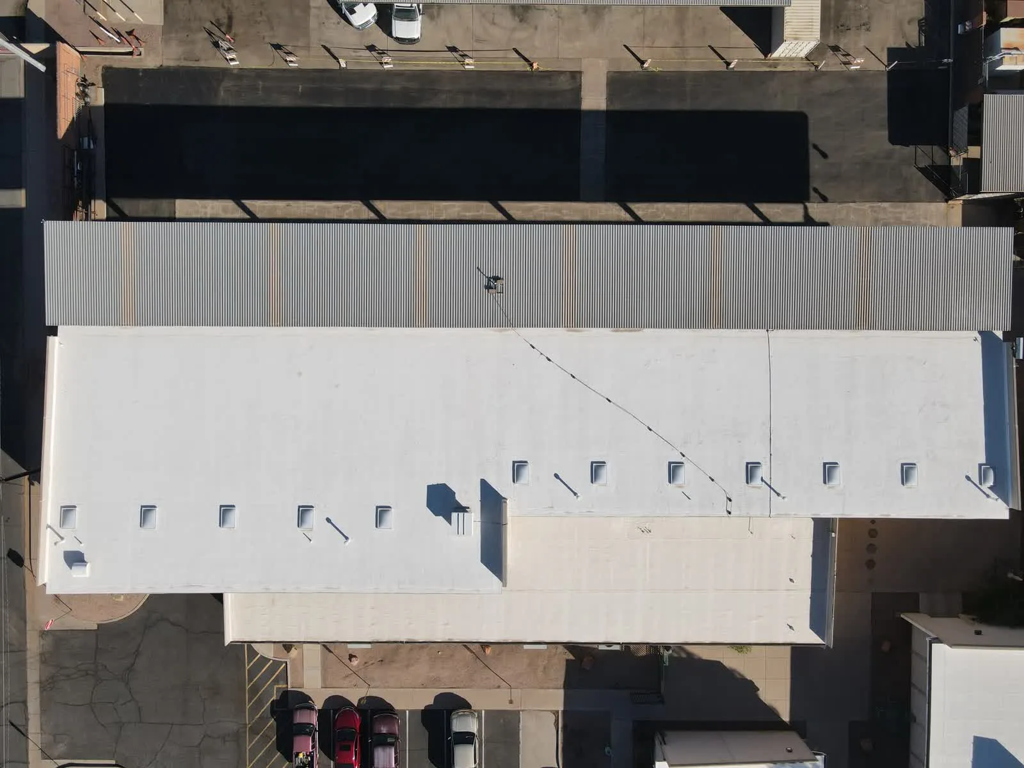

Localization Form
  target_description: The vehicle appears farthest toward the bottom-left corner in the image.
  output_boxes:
[287,701,320,768]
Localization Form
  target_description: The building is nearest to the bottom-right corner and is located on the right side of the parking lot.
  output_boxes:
[901,610,1024,768]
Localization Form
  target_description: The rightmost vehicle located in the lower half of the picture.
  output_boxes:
[447,705,481,768]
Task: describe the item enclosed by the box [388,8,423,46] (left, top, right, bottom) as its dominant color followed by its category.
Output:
white truck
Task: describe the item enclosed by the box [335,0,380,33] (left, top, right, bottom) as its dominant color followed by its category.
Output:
white truck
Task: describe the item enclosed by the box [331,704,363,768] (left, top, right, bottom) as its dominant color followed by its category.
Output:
red car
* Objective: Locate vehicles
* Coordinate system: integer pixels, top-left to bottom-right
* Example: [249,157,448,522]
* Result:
[388,8,423,46]
[287,701,320,768]
[331,704,363,768]
[447,705,481,768]
[335,0,380,33]
[370,709,403,768]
